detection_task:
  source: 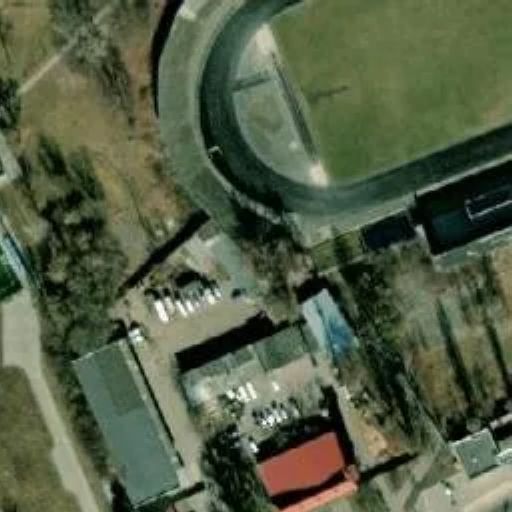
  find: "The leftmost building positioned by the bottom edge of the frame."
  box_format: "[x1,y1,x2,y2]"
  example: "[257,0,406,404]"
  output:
[72,338,188,508]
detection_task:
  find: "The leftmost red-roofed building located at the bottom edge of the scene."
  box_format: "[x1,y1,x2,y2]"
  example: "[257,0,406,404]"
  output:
[257,432,358,512]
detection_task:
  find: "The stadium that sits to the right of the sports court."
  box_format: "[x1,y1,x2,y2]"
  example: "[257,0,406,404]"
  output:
[157,0,512,268]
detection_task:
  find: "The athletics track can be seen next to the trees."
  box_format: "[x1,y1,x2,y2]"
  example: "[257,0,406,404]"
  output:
[197,0,512,219]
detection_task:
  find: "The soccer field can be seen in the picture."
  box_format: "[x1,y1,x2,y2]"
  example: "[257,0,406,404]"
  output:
[232,0,512,188]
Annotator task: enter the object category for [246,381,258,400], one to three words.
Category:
vehicle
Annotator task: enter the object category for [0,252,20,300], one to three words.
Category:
sports court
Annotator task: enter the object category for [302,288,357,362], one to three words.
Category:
building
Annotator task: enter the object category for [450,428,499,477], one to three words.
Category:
building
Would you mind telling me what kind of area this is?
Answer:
sports ground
